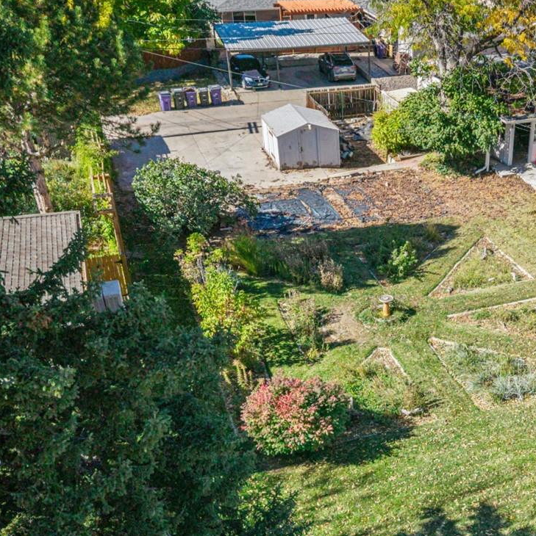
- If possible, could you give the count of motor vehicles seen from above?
2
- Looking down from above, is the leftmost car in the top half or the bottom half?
top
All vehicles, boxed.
[321,52,358,79]
[236,55,271,87]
